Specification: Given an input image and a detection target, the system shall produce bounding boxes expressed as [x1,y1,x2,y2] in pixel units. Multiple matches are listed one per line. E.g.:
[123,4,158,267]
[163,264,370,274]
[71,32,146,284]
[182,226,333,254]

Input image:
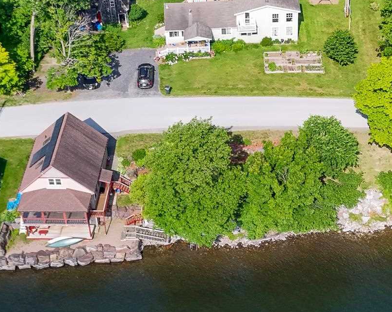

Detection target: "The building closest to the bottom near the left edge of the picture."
[15,111,115,246]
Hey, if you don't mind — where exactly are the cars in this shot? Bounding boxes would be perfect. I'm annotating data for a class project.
[136,60,155,86]
[82,61,99,85]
